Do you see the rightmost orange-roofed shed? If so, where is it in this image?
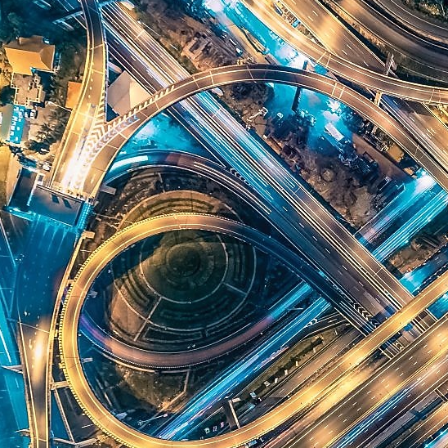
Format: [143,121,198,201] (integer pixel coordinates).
[64,81,82,108]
